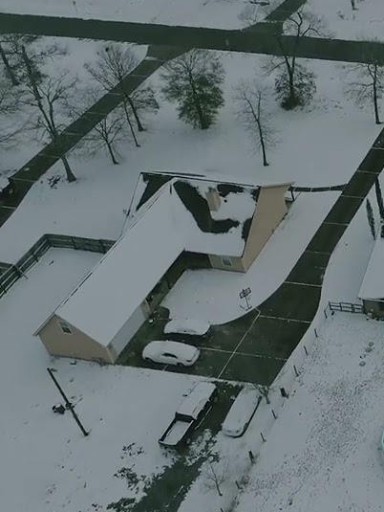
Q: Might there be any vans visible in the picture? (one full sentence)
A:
Yes, a van is visible in the scene.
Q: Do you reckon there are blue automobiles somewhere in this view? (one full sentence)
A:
No, no blue automobile can be seen from above.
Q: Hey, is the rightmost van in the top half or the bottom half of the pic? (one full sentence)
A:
You can find the rightmost van in the bottom half.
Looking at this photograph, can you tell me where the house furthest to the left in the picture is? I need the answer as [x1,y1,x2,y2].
[33,175,298,362]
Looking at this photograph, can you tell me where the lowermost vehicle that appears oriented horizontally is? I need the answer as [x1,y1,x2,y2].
[139,341,202,370]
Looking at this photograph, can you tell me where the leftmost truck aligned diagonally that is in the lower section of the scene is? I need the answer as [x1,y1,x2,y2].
[151,378,223,449]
